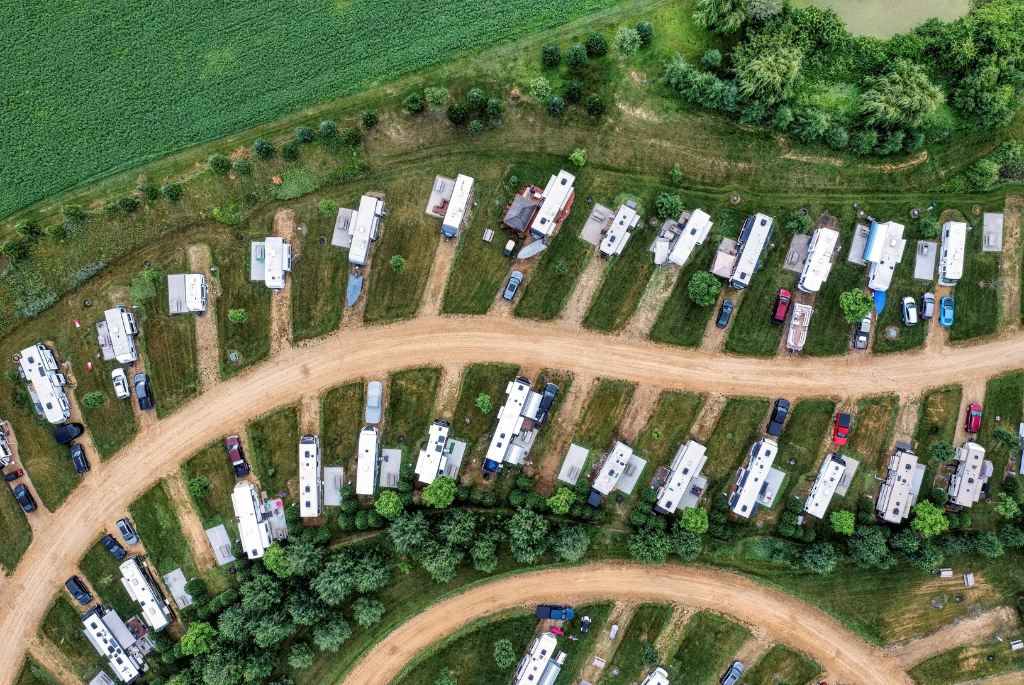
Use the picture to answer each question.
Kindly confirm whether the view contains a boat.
Yes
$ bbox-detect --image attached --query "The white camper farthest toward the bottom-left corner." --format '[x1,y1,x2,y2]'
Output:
[83,609,145,685]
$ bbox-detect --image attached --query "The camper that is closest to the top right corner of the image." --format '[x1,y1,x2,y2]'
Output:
[938,222,966,281]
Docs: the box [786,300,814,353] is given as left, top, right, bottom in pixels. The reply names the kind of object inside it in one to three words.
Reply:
boat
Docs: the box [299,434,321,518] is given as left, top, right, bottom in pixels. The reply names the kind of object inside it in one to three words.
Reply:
camper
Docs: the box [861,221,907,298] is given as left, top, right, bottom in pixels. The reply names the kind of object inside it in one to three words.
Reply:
vehicle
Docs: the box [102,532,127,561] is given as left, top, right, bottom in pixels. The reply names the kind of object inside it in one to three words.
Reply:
car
